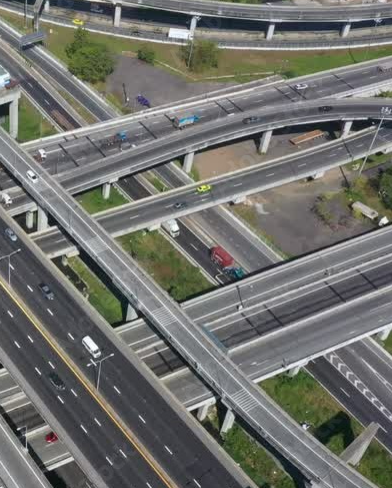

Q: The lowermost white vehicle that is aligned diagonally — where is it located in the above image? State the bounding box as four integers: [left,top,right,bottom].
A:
[81,335,102,359]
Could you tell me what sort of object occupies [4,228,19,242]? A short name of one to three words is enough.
vehicle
